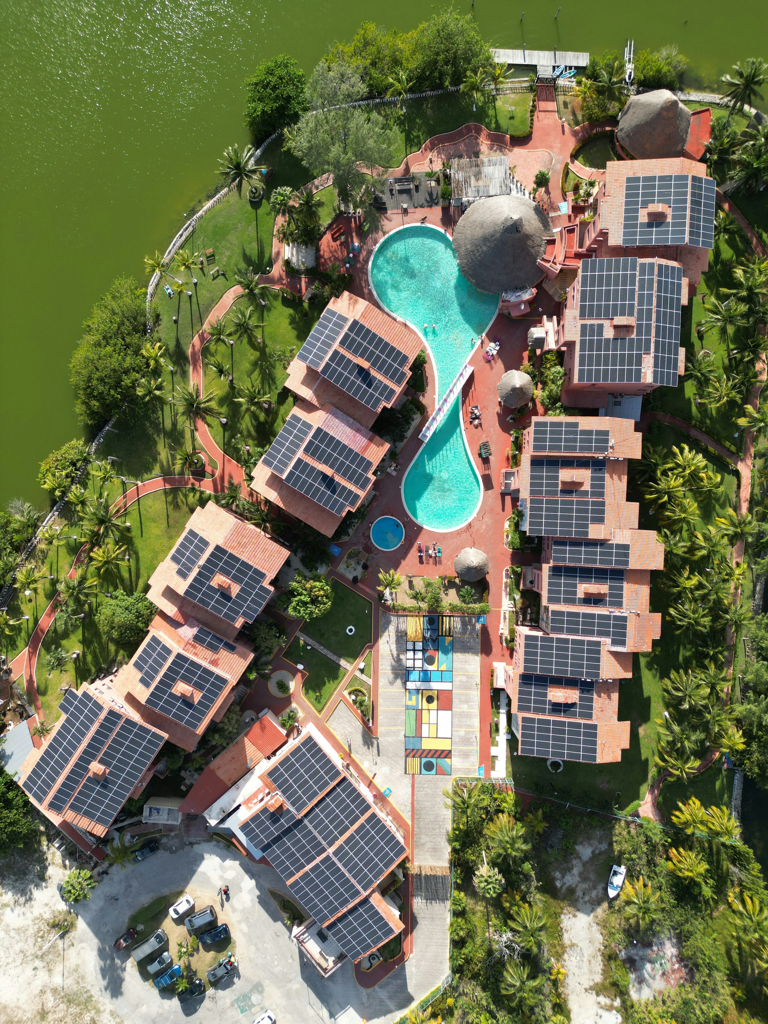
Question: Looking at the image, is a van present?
Yes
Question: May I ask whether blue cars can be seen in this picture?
Yes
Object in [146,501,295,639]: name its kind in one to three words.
house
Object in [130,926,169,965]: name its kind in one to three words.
van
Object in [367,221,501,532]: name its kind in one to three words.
swimming pool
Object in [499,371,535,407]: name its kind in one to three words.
umbrella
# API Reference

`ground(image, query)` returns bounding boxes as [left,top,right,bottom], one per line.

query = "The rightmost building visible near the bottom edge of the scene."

[213,708,410,977]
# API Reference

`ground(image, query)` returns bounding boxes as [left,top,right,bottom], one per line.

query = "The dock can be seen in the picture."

[491,49,589,80]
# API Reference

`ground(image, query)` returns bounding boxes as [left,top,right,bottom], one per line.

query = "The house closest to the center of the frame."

[250,399,390,538]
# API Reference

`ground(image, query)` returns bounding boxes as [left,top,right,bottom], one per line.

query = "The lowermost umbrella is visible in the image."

[453,547,489,584]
